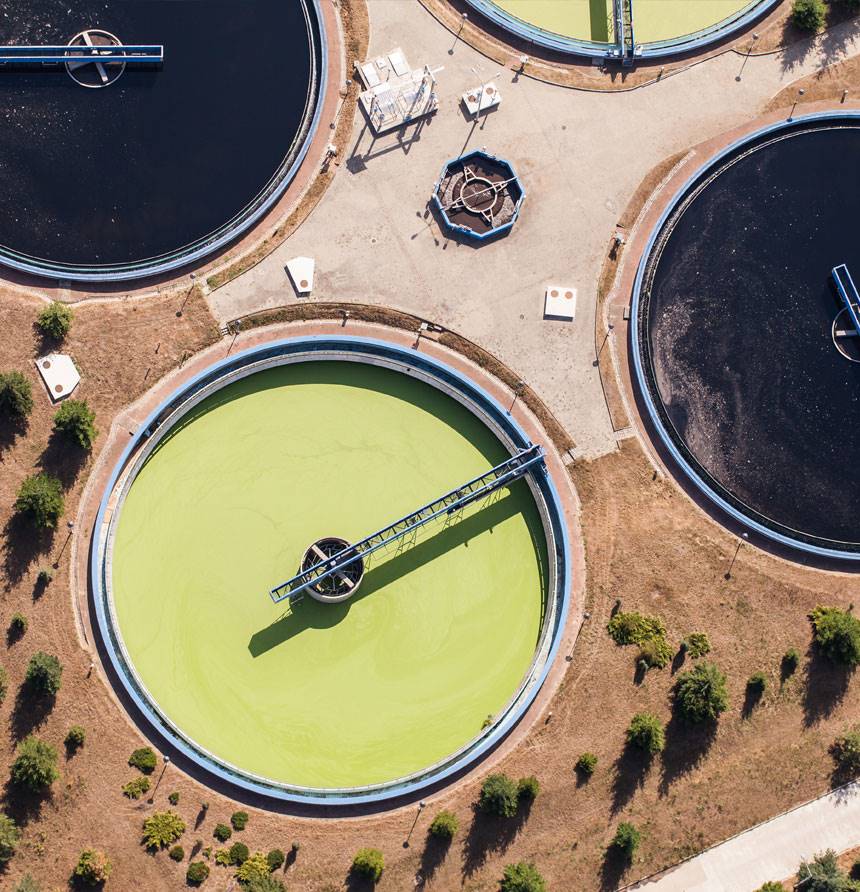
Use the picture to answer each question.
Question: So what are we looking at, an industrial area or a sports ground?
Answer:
industrial area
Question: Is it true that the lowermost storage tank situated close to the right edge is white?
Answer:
No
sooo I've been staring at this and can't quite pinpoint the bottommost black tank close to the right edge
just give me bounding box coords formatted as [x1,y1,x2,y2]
[631,109,860,563]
